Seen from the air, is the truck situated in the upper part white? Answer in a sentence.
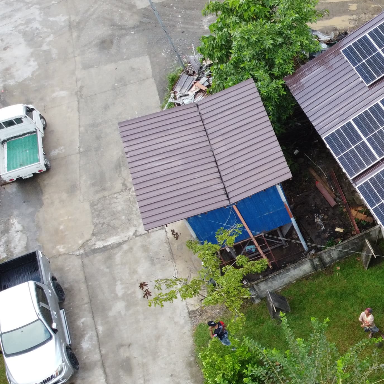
Yes, the truck situated in the upper part appears white.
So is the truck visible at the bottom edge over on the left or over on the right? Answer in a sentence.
It is on the left.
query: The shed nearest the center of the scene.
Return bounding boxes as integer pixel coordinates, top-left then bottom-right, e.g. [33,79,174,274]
[118,82,310,278]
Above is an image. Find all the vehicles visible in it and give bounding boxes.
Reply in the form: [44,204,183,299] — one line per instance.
[0,250,84,384]
[0,100,54,184]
